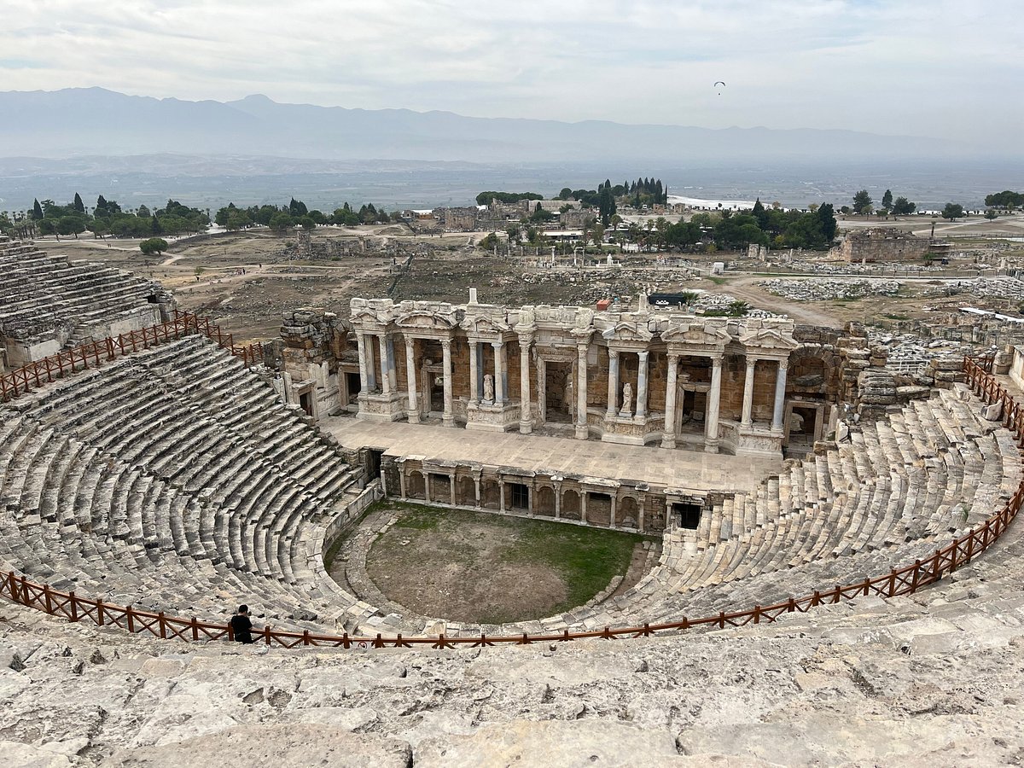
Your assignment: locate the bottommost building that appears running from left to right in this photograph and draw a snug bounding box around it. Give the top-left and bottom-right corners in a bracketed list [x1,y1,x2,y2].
[345,285,812,458]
